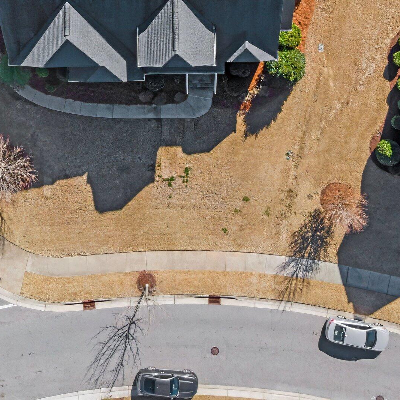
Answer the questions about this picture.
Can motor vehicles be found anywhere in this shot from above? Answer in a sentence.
Yes, a motor vehicle is visible in the scene.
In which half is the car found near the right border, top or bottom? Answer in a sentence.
The car found near the right border is in the bottom half of the image.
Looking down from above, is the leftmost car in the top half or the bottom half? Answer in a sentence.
The leftmost car sits in the bottom half of the picture.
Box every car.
[136,364,201,400]
[323,314,390,353]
